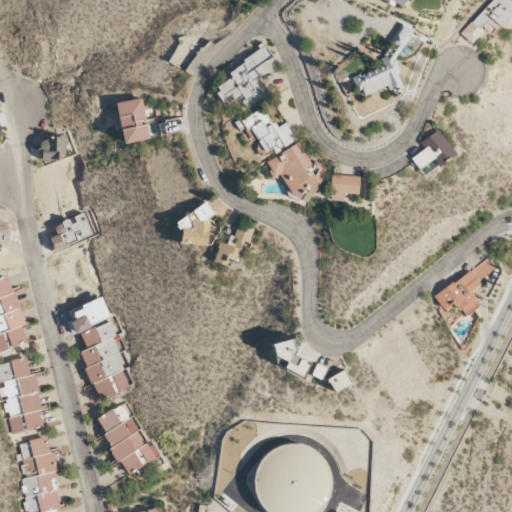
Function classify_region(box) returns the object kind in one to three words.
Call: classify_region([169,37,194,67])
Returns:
building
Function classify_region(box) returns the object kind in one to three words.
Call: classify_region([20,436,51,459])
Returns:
house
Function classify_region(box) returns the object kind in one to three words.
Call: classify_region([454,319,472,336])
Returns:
swimming pool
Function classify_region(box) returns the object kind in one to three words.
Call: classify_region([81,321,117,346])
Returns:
house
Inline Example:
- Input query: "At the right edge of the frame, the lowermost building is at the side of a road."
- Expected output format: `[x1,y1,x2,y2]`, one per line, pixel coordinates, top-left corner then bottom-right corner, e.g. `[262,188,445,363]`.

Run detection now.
[434,258,497,316]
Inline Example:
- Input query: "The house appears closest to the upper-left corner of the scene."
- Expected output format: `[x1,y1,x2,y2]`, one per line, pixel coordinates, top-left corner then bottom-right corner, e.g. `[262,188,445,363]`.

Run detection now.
[42,136,68,164]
